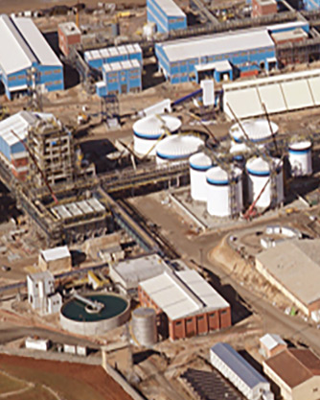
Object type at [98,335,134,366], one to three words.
building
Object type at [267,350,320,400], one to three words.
building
